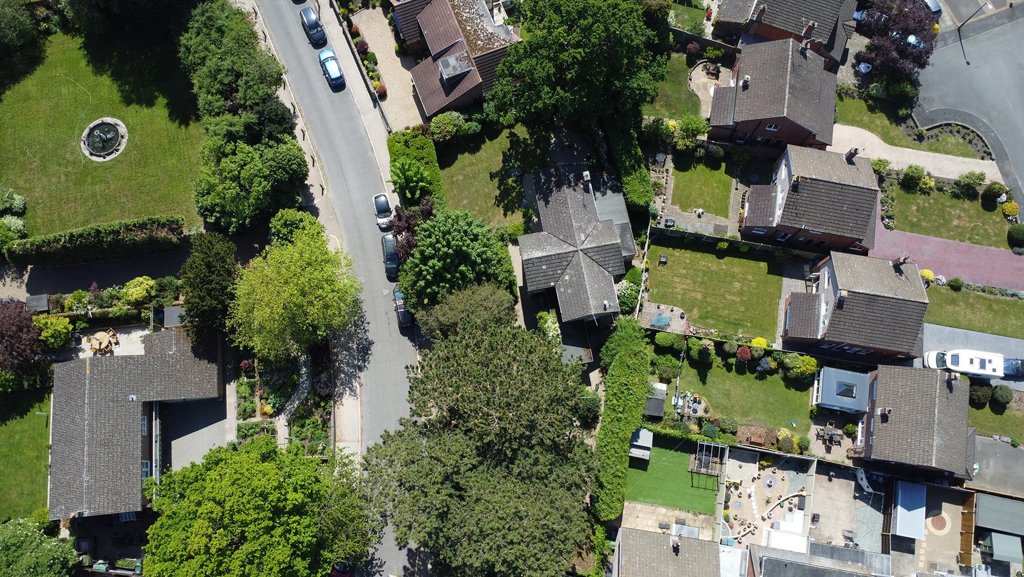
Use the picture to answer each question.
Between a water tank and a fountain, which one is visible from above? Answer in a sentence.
Looking from above, you can make out a fountain.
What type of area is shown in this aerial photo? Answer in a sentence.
What you see here is a residential area.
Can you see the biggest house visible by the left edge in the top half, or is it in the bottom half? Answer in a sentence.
You can find the biggest house visible by the left edge in the bottom half.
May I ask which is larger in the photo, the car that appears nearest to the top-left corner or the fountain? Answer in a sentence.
Compared with the car, the fountain is the larger one.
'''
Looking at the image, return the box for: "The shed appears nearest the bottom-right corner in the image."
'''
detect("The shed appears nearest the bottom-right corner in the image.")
[973,531,1022,564]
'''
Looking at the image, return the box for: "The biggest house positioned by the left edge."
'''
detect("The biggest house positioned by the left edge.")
[47,327,226,520]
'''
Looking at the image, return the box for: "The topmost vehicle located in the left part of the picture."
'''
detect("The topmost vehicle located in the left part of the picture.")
[300,8,328,48]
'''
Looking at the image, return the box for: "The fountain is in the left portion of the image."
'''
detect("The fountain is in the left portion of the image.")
[80,118,128,160]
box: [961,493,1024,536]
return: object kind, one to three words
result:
shed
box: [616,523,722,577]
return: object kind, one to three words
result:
house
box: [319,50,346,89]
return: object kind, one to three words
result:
car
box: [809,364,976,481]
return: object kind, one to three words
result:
house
